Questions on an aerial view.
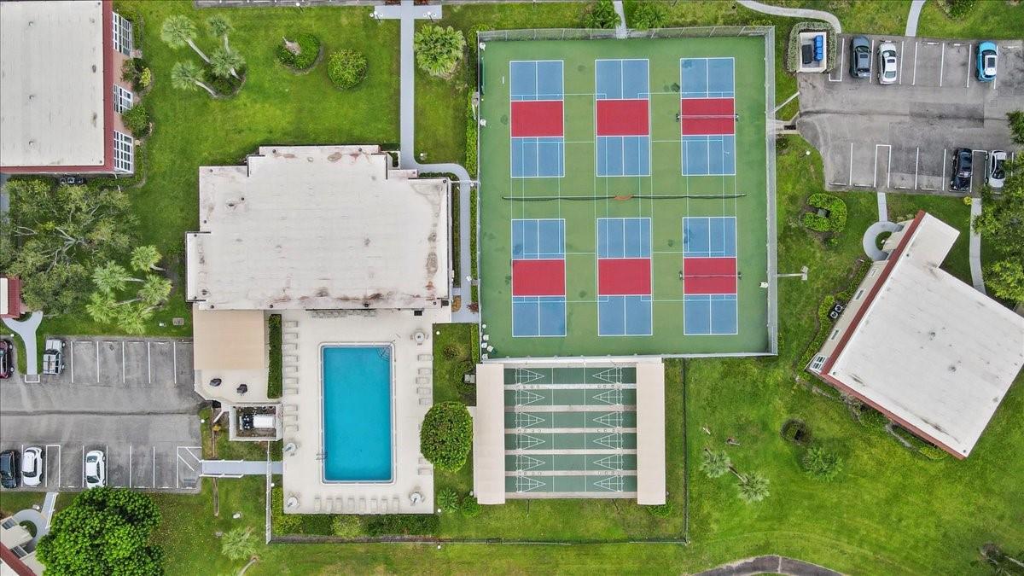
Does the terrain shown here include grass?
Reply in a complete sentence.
Yes, grass can be seen from above here.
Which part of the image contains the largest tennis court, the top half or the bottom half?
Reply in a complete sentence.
You can find the largest tennis court in the top half.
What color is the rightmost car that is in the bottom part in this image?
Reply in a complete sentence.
The color of the rightmost car that is in the bottom part is white.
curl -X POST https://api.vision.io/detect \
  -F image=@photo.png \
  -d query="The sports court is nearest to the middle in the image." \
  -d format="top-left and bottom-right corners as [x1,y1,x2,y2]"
[511,219,566,337]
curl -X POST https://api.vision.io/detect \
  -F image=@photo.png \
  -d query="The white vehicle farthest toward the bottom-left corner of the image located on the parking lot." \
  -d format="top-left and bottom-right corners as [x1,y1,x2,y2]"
[21,448,44,487]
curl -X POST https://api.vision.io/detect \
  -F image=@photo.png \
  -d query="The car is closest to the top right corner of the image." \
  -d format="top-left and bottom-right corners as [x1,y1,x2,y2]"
[974,42,999,82]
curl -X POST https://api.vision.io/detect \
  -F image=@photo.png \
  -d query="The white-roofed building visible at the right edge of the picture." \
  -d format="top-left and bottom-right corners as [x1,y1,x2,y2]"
[807,209,1024,460]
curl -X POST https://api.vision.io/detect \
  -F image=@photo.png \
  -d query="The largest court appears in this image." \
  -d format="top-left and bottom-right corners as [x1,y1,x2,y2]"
[480,37,769,358]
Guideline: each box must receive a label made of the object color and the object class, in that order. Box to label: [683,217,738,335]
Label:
blue sports court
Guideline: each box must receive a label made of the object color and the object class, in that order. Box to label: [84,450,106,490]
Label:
white car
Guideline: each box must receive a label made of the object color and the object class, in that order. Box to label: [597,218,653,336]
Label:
blue sports court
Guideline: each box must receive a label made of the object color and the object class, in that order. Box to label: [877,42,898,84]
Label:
white car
